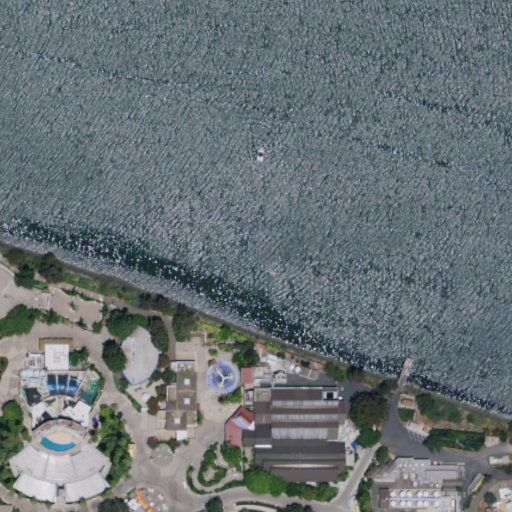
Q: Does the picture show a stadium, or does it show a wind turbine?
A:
stadium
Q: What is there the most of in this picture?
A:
water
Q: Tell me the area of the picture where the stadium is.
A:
bottom left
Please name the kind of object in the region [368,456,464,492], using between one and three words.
building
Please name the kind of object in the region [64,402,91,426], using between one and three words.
building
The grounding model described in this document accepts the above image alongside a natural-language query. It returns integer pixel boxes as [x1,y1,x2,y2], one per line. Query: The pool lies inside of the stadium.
[40,438,76,452]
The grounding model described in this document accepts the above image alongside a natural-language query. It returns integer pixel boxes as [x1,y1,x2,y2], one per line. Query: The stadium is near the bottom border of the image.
[8,417,110,504]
